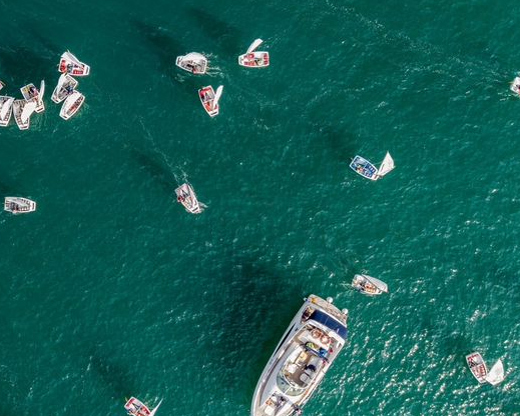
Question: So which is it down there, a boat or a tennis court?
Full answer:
Looking from above, you can make out a boat.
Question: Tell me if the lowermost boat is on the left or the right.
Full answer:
You can find the lowermost boat on the left side of the picture.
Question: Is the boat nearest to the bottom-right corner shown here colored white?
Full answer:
Yes, white is the color of the boat nearest to the bottom-right corner.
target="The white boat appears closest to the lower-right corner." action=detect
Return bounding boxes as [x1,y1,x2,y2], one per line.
[464,348,507,387]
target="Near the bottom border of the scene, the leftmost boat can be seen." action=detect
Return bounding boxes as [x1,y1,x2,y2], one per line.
[124,394,164,416]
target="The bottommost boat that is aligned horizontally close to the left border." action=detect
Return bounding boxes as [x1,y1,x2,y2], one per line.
[2,194,37,213]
